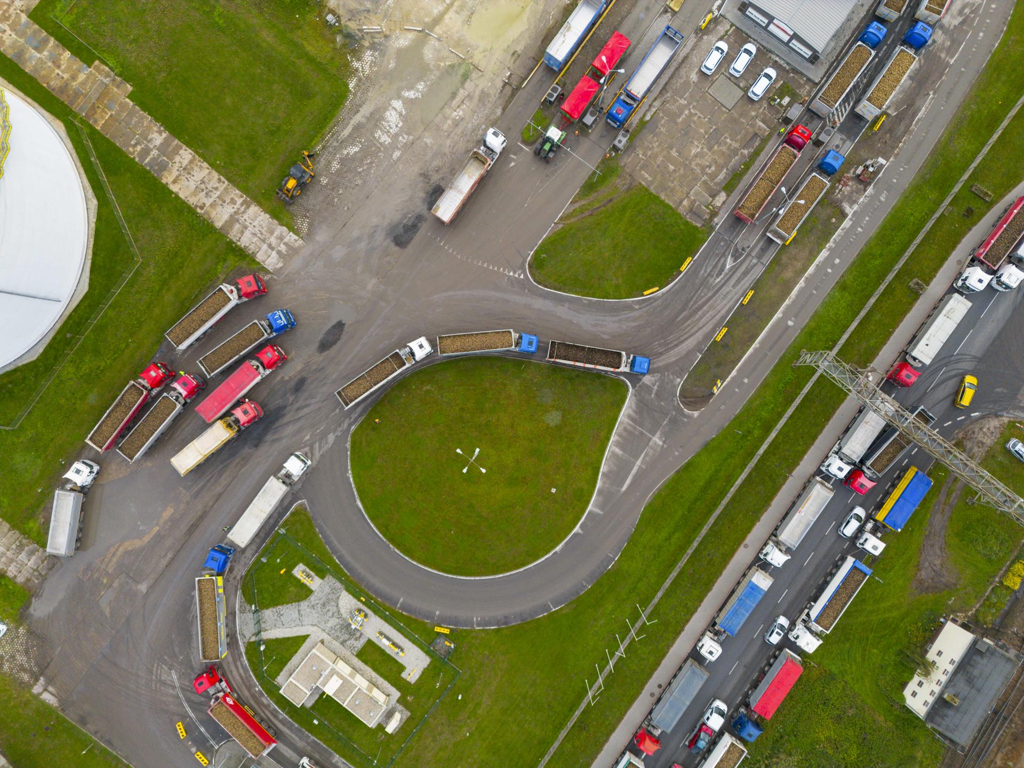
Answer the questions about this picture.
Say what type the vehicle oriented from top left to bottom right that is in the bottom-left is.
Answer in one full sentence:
I'd say the vehicle oriented from top left to bottom right that is in the bottom-left is a truck.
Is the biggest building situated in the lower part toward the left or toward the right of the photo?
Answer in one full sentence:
You can find the biggest building situated in the lower part on the right side of the picture.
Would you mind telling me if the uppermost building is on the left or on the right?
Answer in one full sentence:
The uppermost building sits on the right side.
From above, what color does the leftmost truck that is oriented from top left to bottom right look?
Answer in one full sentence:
From above, the leftmost truck that is oriented from top left to bottom right appears red.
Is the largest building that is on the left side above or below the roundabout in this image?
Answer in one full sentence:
The largest building that is on the left side is found below the roundabout in the photo.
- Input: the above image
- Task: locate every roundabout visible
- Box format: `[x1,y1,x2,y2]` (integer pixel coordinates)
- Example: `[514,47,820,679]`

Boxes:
[306,355,646,628]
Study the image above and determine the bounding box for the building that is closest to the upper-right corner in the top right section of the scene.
[732,0,861,71]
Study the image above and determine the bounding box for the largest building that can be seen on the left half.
[279,643,389,728]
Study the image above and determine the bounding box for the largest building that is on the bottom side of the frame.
[904,621,1020,746]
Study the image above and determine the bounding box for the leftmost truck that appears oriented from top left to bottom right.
[192,661,275,759]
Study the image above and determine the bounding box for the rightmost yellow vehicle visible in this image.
[953,375,977,409]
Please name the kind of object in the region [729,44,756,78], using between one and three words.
car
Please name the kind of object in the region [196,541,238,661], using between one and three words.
truck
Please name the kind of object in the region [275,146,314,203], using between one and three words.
work vehicle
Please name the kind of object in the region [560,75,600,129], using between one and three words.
trailer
